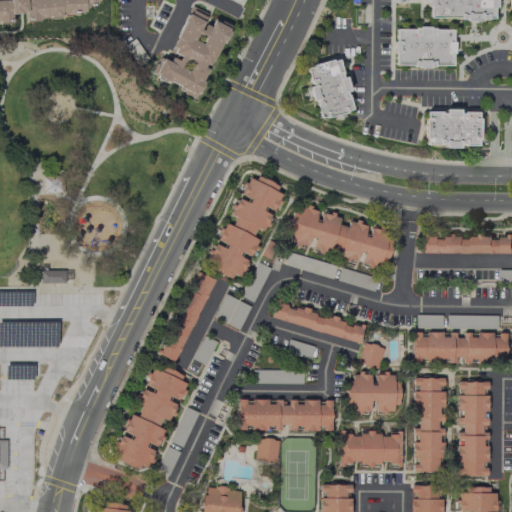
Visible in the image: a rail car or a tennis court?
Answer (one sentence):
There is a tennis court in the scene.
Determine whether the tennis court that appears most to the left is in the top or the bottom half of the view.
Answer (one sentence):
Seen from above, the tennis court that appears most to the left lies in the bottom half of the view.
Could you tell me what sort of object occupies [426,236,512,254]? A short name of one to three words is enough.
building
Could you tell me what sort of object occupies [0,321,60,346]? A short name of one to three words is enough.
solar panel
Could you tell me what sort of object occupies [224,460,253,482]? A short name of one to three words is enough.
swimming pool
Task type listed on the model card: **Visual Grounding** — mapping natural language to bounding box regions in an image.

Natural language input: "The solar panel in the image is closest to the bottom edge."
[8,365,35,379]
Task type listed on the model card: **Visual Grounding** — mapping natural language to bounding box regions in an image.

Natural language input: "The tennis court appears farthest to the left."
[281,436,316,511]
